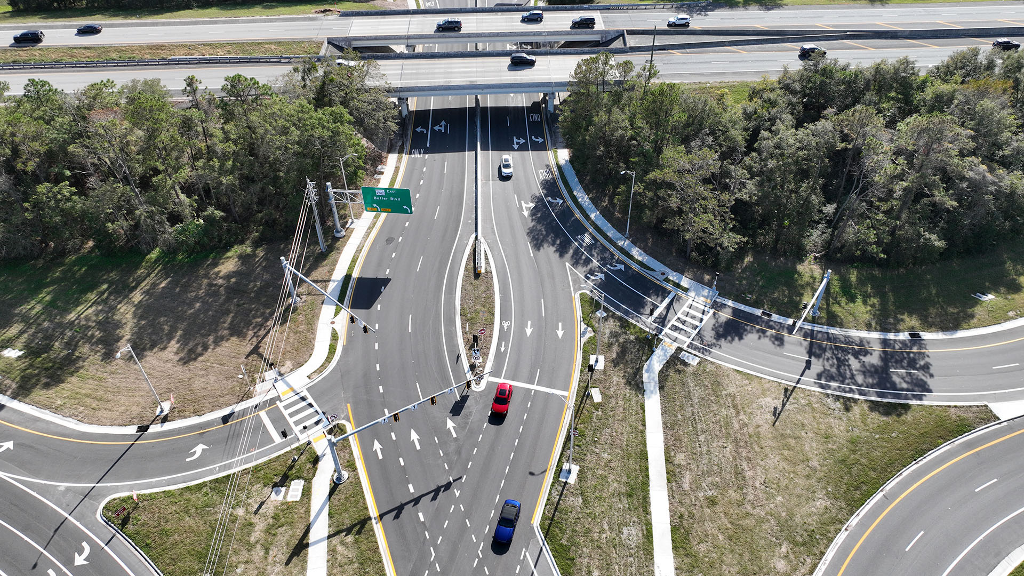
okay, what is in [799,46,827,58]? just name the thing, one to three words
vehicle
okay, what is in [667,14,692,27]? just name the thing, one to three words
vehicle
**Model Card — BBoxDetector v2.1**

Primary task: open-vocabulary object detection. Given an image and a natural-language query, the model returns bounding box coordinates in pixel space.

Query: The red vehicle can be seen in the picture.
[491,386,511,420]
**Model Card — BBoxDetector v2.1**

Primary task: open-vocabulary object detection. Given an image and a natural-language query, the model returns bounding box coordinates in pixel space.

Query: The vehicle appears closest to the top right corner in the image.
[993,37,1022,51]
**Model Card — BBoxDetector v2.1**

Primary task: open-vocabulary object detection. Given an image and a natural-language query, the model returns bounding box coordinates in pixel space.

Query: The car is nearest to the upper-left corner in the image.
[13,30,42,44]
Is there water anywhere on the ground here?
No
